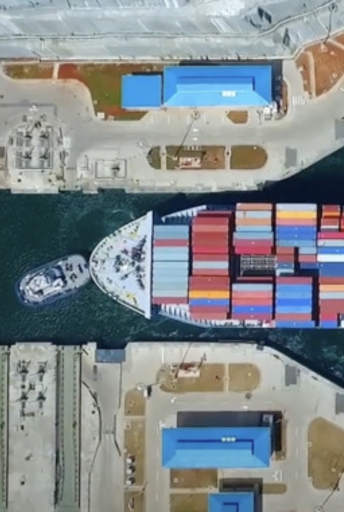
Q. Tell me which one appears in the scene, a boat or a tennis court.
boat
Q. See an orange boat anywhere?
No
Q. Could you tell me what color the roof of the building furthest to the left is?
blue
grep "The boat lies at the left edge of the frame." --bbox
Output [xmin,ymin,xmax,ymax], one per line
[14,257,93,305]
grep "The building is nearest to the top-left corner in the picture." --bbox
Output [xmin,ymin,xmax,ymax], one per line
[121,75,163,107]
